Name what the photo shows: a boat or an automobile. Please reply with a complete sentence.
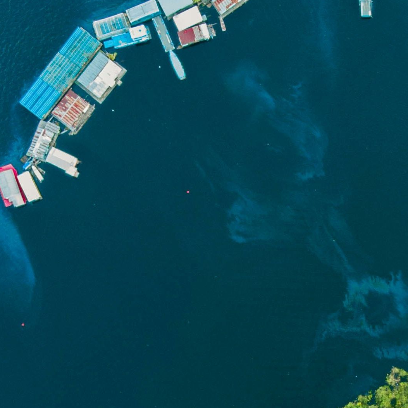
There is a boat in the scene.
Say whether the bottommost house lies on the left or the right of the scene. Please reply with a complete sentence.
It is on the left.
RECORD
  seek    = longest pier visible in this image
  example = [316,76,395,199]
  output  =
[152,15,175,54]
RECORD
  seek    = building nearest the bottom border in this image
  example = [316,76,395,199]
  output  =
[46,147,83,176]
